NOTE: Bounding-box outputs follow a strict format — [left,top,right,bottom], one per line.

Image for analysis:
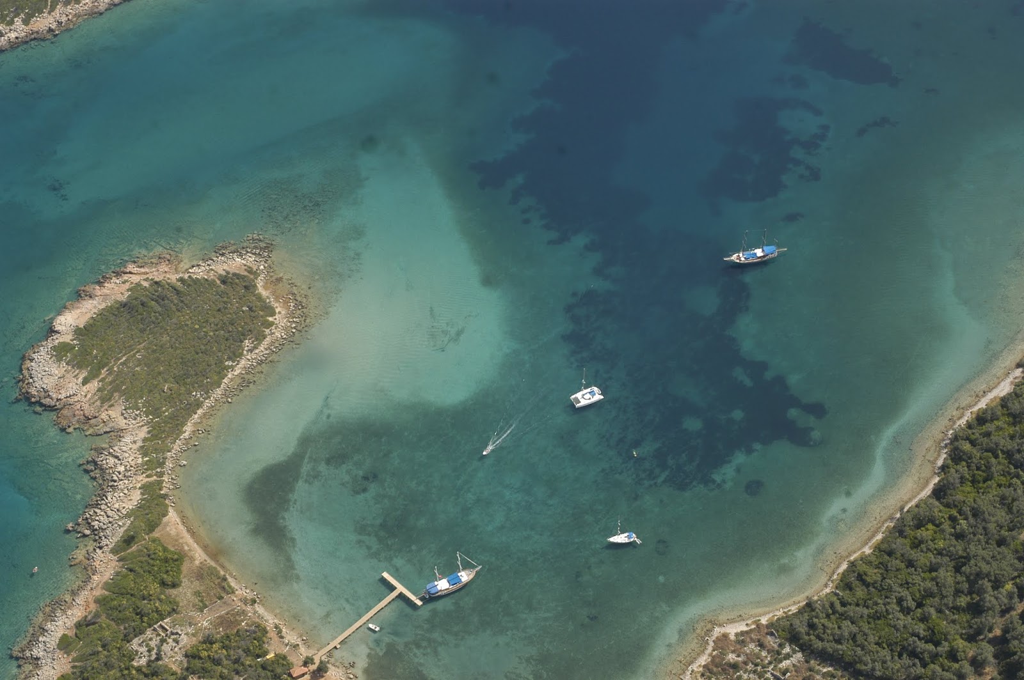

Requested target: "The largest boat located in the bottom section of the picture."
[413,555,483,603]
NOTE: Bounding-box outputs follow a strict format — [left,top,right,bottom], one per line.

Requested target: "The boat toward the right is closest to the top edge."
[725,228,788,262]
